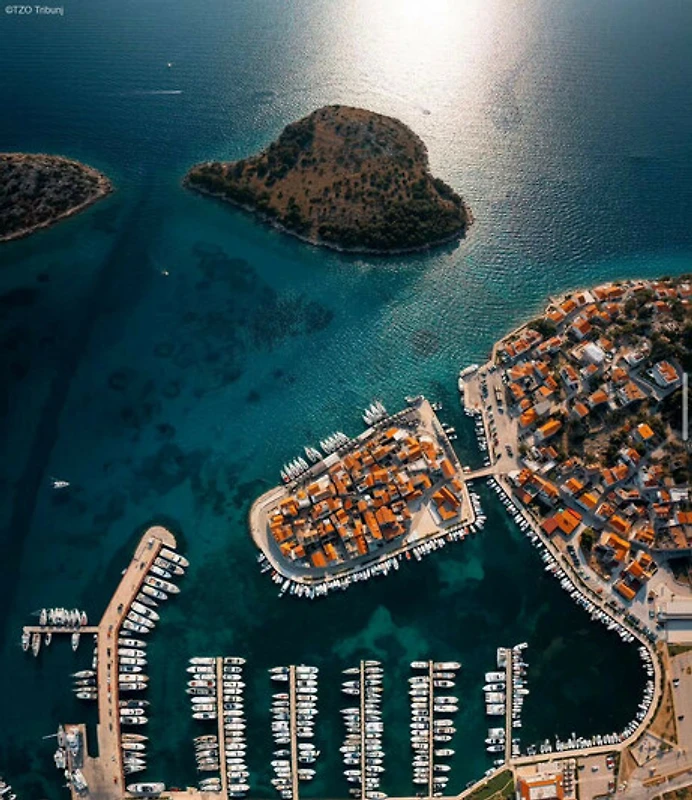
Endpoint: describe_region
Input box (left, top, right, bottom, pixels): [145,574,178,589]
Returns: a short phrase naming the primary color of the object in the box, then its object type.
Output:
white boat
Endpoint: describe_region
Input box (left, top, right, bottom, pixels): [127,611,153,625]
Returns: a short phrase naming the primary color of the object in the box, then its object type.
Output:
white boat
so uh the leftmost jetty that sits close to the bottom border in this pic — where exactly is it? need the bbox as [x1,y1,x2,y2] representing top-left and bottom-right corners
[65,526,222,800]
